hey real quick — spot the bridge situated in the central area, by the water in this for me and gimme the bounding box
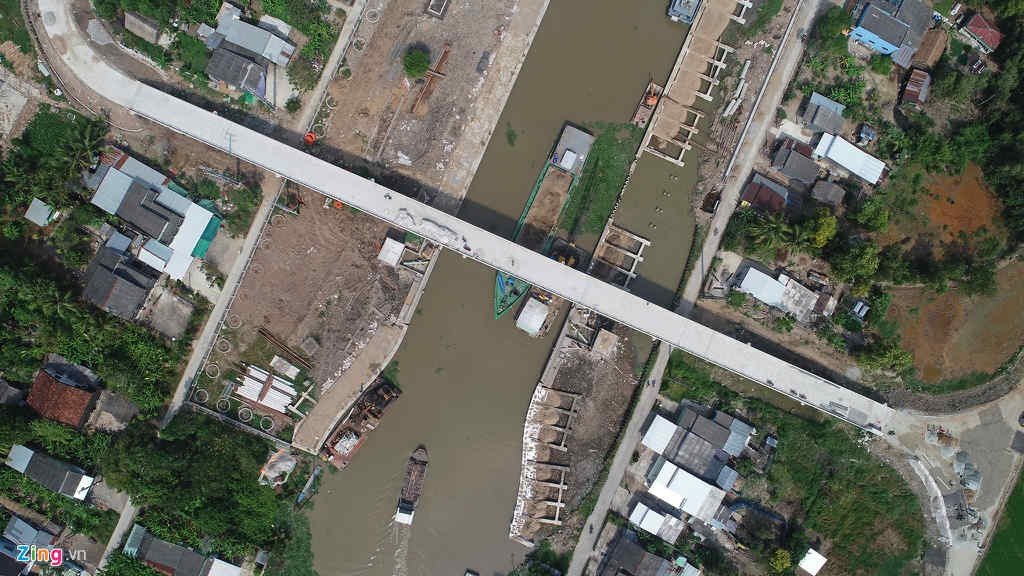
[123,80,894,435]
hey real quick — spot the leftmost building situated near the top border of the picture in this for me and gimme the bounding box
[121,12,166,46]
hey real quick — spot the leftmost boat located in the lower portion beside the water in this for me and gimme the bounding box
[298,466,320,503]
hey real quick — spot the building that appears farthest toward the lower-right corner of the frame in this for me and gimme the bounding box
[801,546,827,575]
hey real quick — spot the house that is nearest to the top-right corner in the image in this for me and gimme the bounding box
[958,14,1003,56]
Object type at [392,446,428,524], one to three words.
boat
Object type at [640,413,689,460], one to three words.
house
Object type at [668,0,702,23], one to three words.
boat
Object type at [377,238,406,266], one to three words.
shed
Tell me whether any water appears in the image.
Yes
